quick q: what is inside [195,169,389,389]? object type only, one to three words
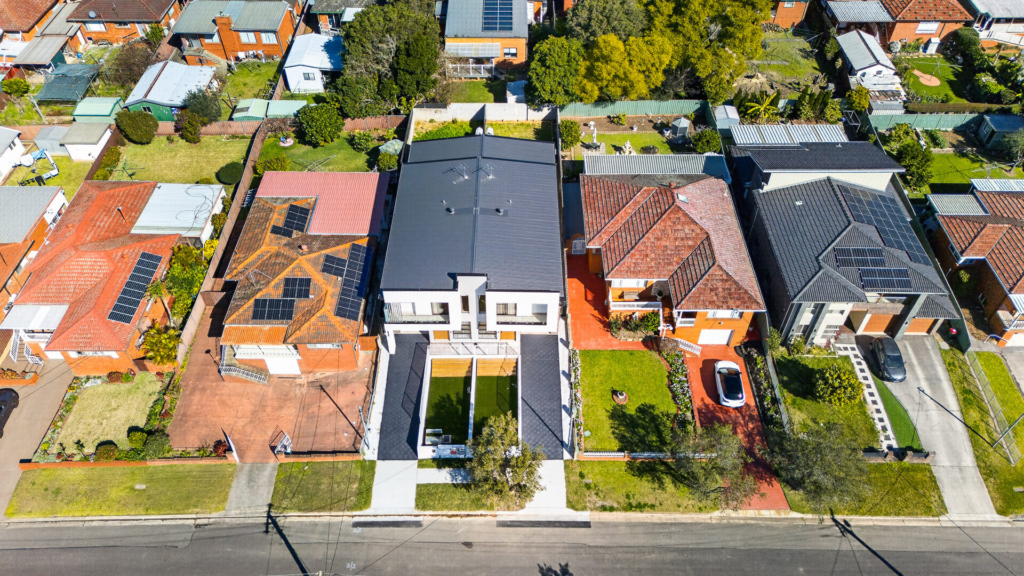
house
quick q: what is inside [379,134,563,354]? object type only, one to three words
house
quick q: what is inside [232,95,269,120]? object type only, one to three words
shed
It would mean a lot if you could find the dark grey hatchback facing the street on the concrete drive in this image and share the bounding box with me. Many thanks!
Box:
[873,335,910,385]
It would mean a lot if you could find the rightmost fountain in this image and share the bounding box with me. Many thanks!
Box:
[617,138,637,155]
